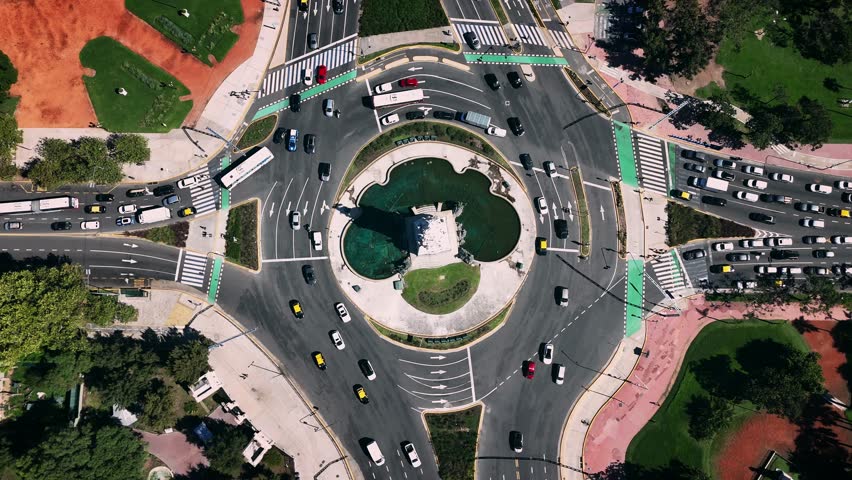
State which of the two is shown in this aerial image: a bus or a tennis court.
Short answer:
bus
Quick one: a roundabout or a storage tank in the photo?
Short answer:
roundabout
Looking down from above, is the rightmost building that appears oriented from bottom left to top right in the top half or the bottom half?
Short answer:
bottom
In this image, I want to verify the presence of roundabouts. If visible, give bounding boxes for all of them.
[228,43,641,443]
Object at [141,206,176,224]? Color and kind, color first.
white vehicle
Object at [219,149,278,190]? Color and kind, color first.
white bus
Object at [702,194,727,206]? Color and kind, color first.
black vehicle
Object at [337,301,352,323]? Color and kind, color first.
white car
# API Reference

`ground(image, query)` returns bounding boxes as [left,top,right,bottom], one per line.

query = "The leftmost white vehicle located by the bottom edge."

[367,440,385,467]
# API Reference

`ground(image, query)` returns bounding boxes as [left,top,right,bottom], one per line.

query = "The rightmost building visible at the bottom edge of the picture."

[246,429,276,461]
